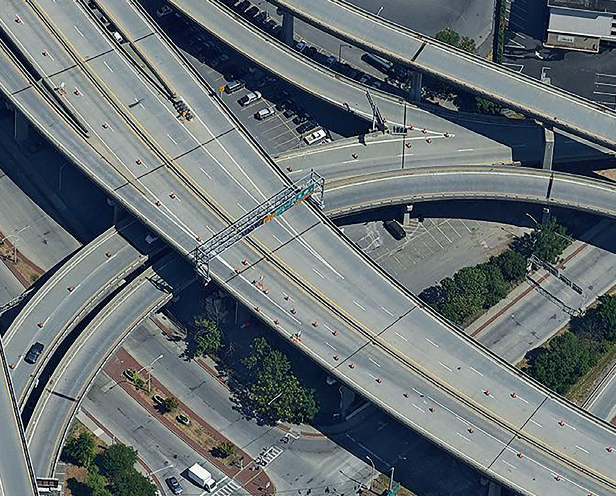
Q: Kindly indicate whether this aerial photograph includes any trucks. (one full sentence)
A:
Yes, you can see a truck in this photo.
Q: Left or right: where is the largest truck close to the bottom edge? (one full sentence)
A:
The largest truck close to the bottom edge is on the left side of the image.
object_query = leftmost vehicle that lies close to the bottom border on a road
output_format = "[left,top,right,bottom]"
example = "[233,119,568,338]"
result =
[166,477,181,495]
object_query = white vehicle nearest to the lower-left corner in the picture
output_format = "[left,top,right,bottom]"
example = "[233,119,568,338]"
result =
[186,458,219,493]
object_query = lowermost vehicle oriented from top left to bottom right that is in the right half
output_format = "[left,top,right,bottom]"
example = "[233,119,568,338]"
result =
[386,218,404,239]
